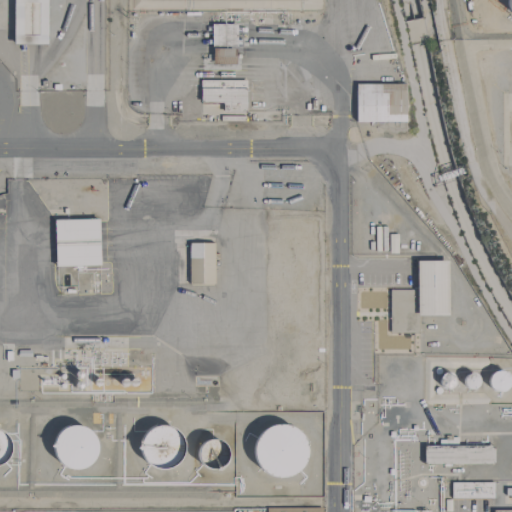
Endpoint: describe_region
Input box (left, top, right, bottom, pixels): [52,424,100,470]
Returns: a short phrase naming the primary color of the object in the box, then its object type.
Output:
white storage tank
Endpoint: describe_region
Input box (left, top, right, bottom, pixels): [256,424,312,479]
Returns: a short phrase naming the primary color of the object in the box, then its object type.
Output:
white storage tank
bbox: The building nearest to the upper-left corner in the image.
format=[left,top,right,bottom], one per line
[15,0,49,44]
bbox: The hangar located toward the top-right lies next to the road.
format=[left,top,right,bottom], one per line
[358,83,410,122]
